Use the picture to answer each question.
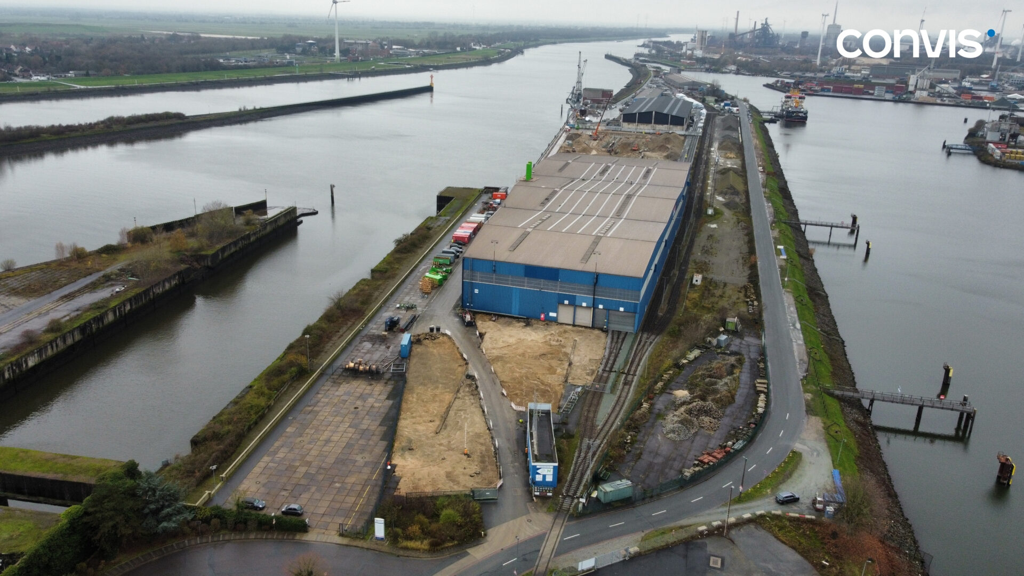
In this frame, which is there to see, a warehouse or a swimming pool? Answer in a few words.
warehouse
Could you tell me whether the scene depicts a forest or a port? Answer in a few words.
port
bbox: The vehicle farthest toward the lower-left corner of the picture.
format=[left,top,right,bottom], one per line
[238,497,265,511]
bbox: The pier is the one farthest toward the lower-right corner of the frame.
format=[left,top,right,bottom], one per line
[824,384,978,444]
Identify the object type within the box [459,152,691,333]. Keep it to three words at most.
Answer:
warehouse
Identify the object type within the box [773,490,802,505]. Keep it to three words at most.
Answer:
car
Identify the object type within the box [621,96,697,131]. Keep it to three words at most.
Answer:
building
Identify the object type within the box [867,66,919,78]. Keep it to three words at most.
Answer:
building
